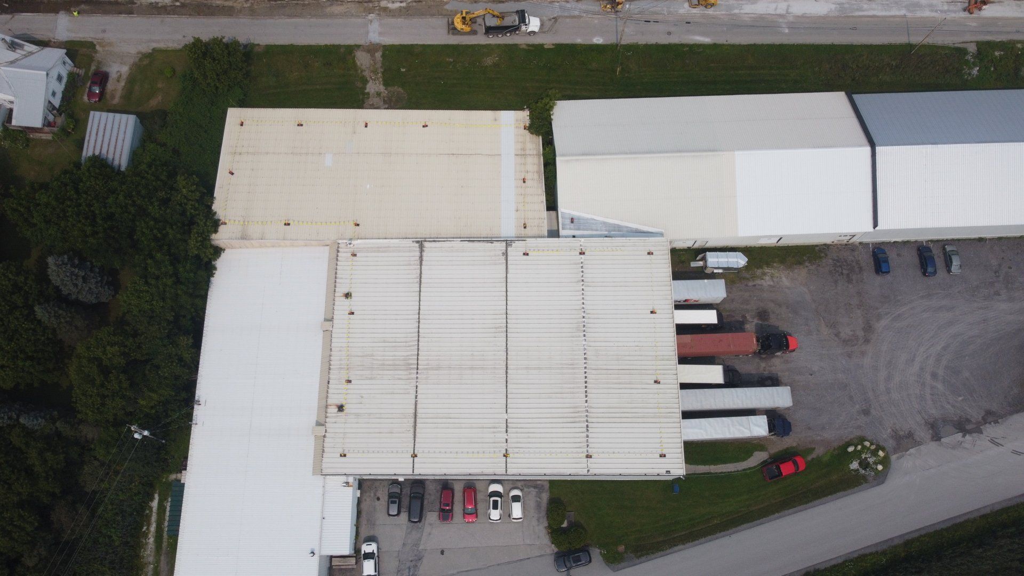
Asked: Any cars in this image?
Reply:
Yes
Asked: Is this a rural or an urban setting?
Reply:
urban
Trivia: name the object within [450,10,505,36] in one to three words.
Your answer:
work vehicle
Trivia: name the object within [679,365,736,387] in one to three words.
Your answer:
truck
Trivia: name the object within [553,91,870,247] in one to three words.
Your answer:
building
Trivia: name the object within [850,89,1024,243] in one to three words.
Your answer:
building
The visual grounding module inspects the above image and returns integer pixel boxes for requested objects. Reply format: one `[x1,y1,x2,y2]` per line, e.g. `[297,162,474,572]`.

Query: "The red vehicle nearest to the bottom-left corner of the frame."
[437,489,455,522]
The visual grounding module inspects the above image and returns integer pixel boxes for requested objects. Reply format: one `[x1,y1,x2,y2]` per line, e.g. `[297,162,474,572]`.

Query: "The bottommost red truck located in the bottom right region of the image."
[765,457,807,480]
